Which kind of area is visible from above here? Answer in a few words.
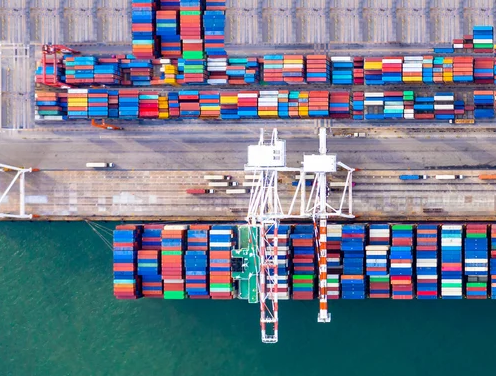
port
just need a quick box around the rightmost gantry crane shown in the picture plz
[304,128,362,323]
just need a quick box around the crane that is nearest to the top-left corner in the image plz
[42,43,79,89]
